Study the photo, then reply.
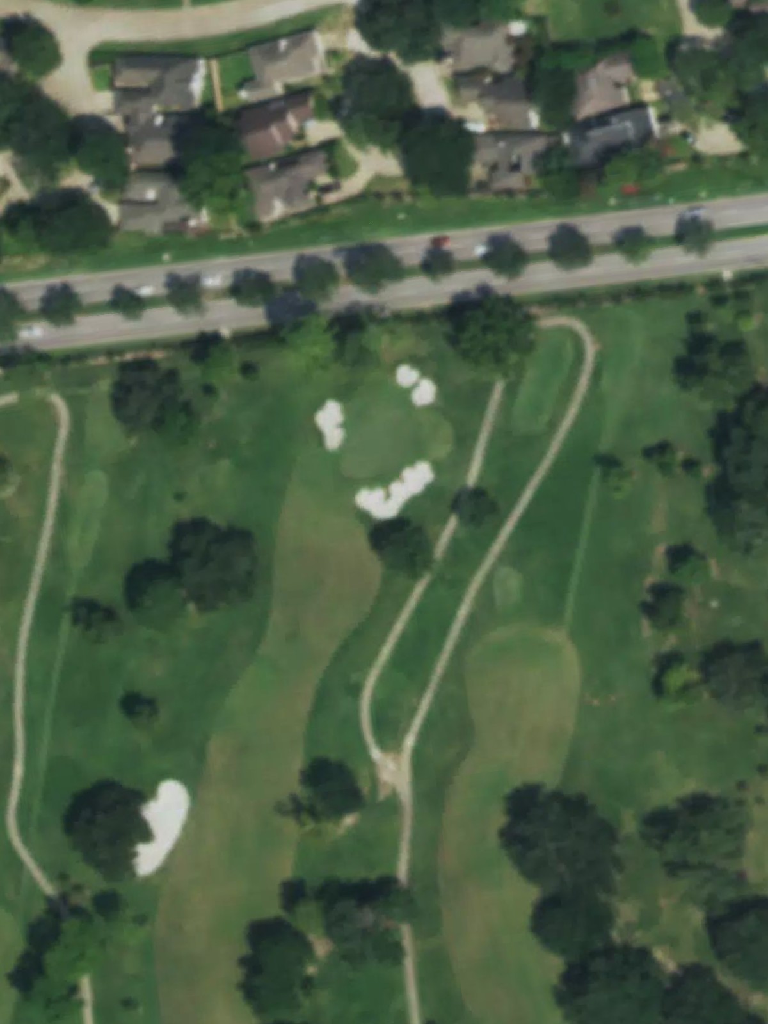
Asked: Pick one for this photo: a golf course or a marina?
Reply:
golf course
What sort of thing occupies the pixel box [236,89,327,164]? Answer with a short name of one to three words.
house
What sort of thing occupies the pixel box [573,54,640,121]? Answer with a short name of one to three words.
house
